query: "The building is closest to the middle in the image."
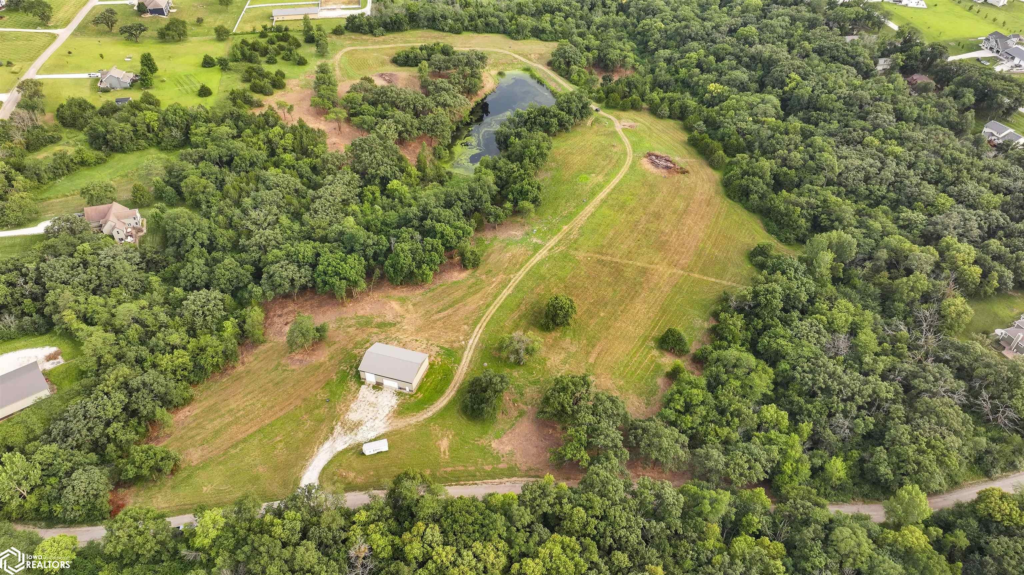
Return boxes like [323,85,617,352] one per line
[357,341,431,394]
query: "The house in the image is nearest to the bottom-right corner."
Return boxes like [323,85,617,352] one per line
[972,304,1024,367]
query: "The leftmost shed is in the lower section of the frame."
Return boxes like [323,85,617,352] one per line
[0,359,53,420]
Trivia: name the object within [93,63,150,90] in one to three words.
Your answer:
house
